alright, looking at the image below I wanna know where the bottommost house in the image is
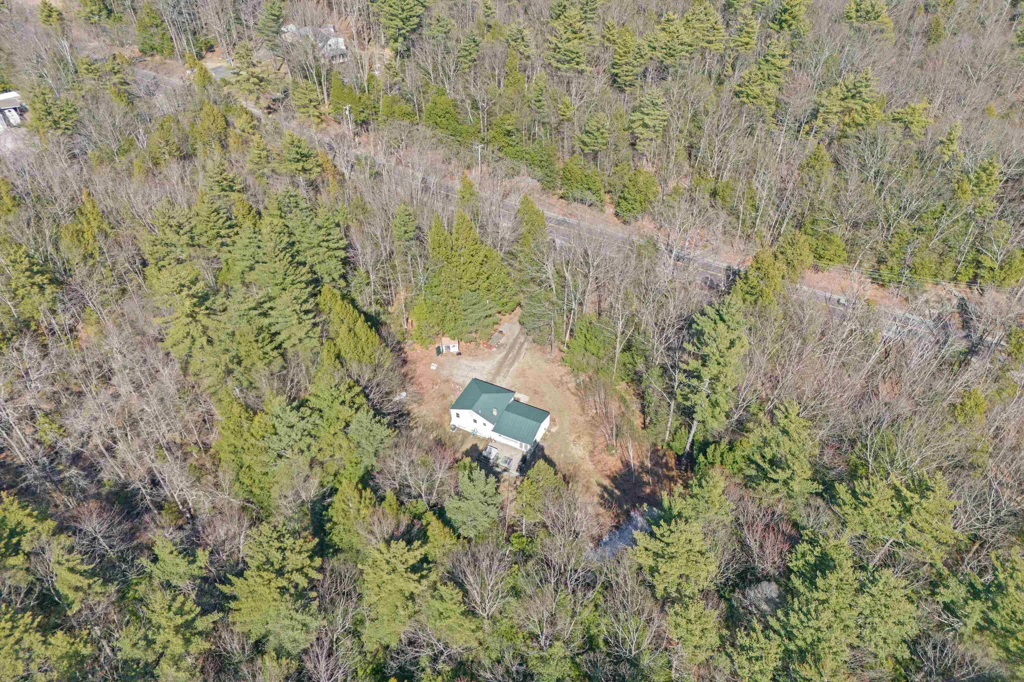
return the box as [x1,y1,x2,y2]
[450,376,550,455]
